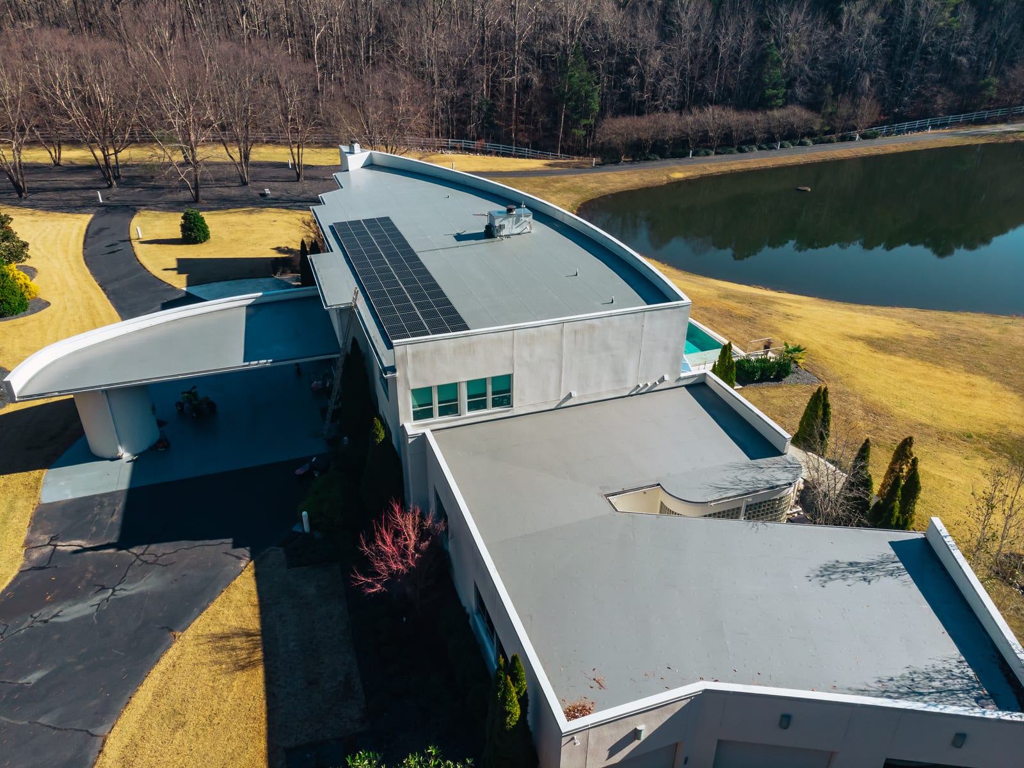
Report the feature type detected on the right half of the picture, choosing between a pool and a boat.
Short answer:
pool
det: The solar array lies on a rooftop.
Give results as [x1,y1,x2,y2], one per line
[333,216,469,343]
